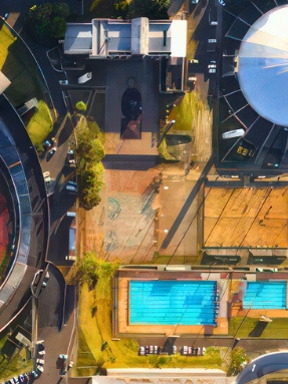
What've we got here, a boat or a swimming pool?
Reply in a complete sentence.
This aerial view contains a swimming pool.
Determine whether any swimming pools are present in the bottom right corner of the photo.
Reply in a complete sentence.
Yes, the scene does show a swimming pool in the bottom right corner of the photo.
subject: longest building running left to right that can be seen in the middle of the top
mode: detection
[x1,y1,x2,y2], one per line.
[59,19,187,61]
